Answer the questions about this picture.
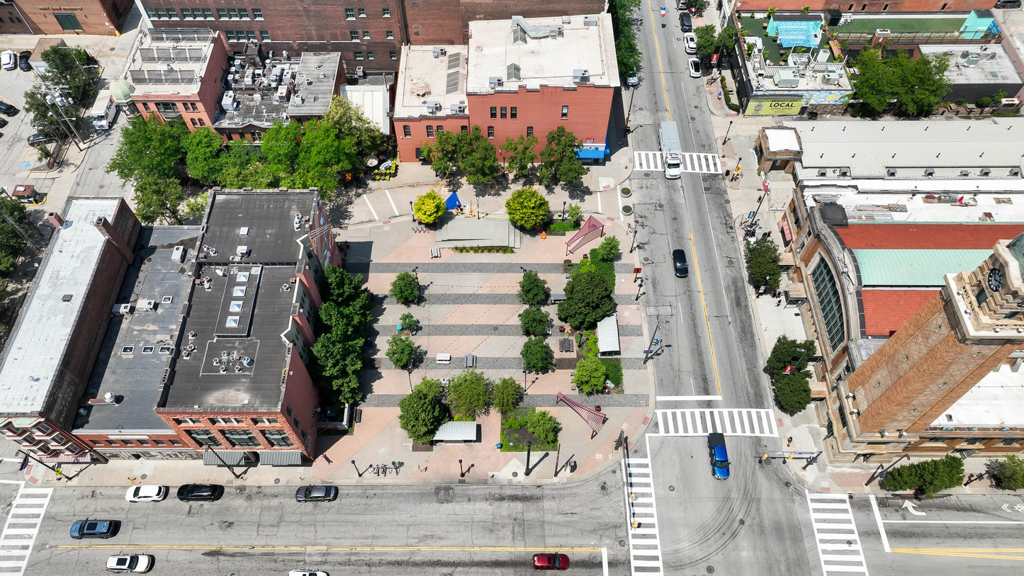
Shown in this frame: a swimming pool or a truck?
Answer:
truck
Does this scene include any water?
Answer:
No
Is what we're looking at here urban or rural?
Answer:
urban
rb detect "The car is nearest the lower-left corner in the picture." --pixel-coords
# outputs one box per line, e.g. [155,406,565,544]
[74,518,120,540]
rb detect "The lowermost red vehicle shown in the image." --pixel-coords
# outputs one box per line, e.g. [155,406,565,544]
[530,551,568,572]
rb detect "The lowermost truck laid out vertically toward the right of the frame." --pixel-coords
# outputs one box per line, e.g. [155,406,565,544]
[705,434,727,480]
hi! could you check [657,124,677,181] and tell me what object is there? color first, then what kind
white vehicle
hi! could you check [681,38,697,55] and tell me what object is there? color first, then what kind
white car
